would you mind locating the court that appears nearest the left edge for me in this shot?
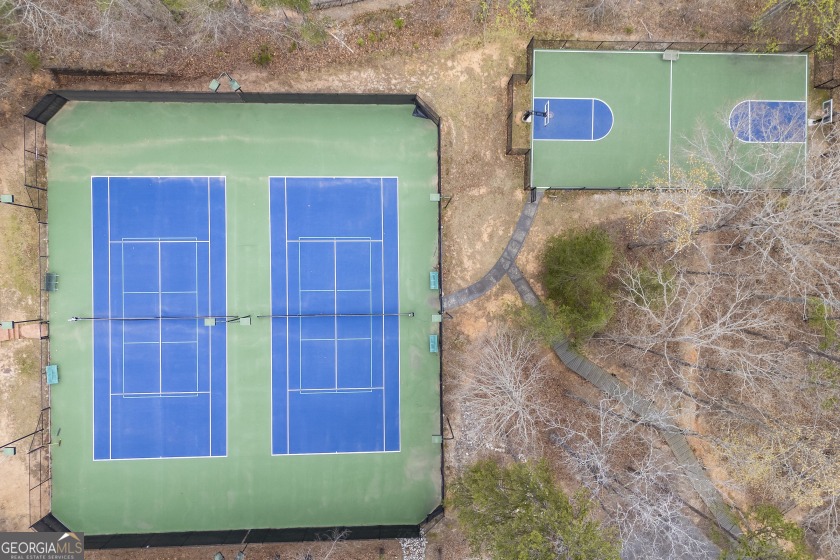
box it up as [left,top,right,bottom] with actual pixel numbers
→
[46,102,250,531]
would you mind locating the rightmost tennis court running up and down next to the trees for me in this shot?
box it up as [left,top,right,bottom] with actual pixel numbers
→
[247,103,441,528]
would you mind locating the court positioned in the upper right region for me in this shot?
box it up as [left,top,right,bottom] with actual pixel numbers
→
[531,49,811,190]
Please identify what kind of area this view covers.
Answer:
sports ground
